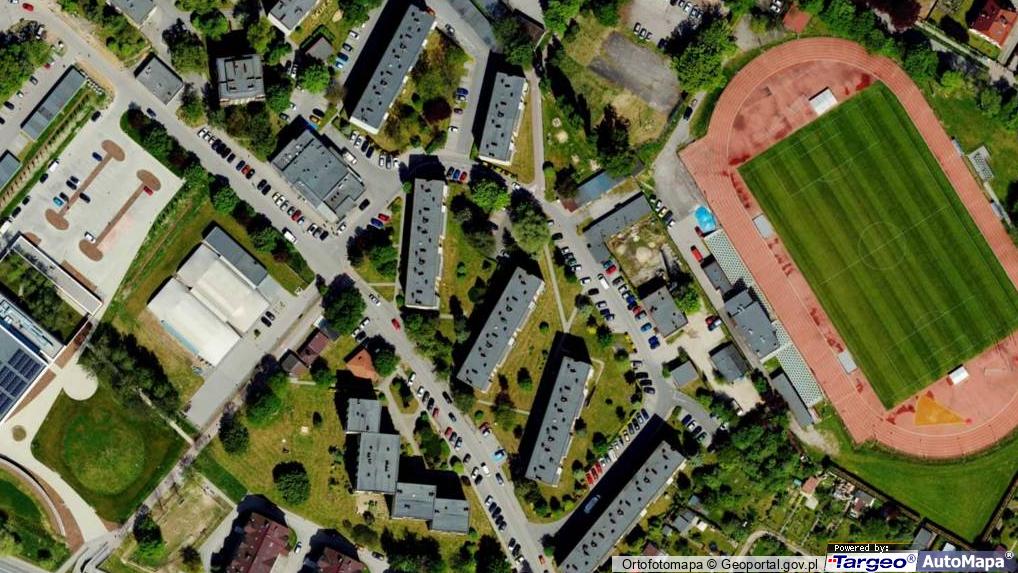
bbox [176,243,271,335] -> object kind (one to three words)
building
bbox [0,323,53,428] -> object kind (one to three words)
building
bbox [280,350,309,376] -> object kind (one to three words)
shed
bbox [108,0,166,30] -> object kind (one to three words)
house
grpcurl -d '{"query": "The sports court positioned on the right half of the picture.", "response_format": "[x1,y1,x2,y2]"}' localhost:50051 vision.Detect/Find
[588,31,681,107]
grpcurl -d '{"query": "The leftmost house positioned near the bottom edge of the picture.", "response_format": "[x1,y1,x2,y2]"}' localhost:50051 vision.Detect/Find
[222,511,292,573]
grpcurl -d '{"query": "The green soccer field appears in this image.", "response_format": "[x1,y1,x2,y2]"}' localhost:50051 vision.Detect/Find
[739,81,1018,410]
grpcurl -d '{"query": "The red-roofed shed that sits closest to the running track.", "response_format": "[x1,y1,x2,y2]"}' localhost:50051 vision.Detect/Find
[783,6,811,33]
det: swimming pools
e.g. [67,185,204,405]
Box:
[696,206,717,232]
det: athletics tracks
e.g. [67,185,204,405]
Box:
[679,36,1018,457]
